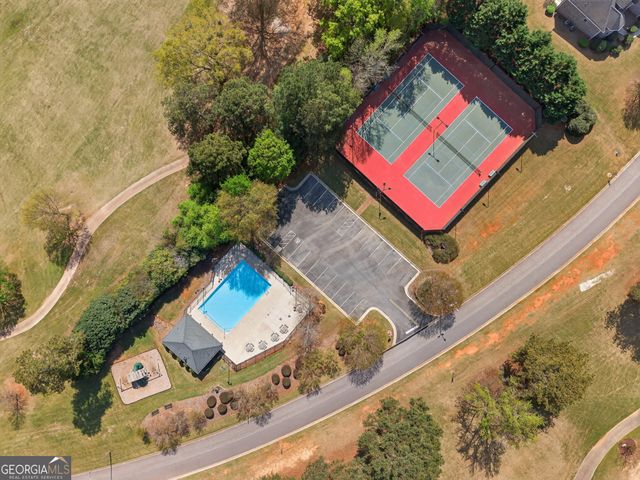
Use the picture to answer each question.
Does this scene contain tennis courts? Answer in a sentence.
Yes, there is a tennis court in the image.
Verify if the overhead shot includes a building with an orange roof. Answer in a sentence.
No, there is no building with an orange roof in the image.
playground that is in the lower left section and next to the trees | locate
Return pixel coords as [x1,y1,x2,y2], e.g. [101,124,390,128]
[111,349,171,405]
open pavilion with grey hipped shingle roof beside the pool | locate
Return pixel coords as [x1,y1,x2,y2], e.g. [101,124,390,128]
[162,314,223,376]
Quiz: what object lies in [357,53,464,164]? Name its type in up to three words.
tennis court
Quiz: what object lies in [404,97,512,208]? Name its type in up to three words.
tennis court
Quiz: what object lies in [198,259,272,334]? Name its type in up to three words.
swimming pool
